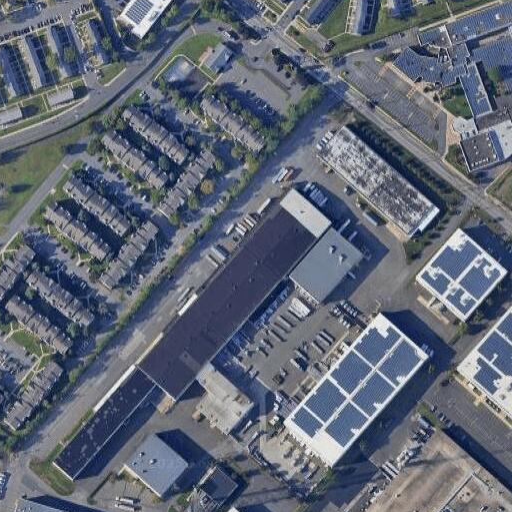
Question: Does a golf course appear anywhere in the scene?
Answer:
No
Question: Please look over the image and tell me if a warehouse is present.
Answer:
Yes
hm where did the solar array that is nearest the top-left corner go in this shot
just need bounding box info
[127,0,152,23]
